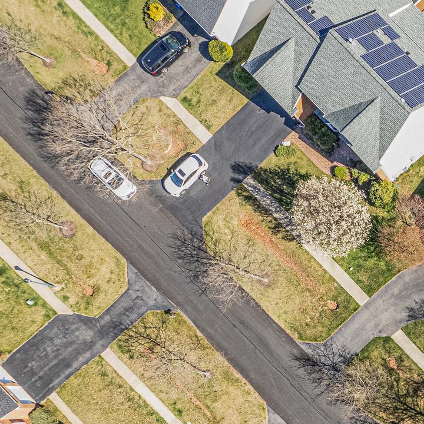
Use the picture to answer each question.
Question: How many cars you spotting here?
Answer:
3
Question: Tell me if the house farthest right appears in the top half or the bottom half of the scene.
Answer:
top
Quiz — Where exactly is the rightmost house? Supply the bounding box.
[234,0,424,181]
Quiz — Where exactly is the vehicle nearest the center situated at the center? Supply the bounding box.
[164,152,210,197]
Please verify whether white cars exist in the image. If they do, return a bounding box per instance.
[86,157,139,201]
[164,152,210,197]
